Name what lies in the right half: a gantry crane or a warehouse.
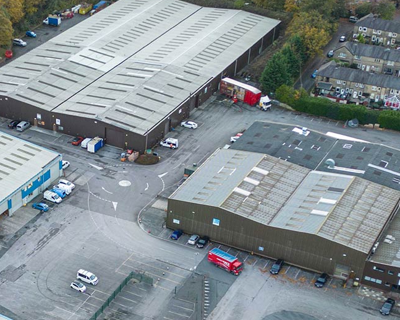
warehouse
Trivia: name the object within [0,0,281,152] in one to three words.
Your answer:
warehouse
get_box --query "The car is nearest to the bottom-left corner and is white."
[68,279,87,293]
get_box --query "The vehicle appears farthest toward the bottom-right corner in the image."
[379,299,393,314]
